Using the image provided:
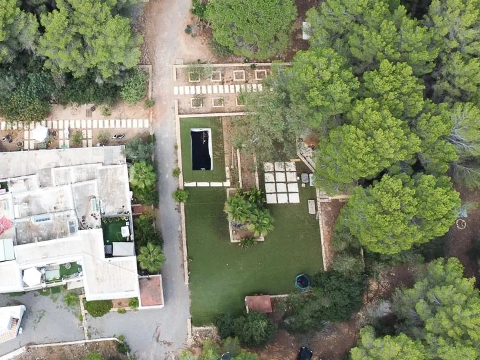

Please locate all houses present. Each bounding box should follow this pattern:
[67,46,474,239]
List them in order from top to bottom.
[0,145,163,310]
[0,306,28,345]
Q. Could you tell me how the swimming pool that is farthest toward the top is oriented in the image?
from top to bottom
